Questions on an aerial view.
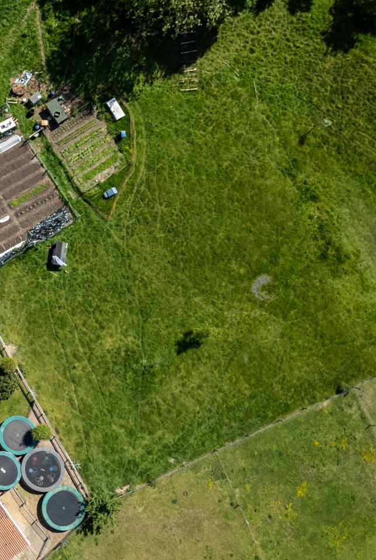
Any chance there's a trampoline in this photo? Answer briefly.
Yes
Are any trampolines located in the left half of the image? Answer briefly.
Yes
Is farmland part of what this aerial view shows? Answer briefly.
Yes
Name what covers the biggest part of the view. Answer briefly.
grass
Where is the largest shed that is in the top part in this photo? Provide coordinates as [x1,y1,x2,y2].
[43,99,69,128]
